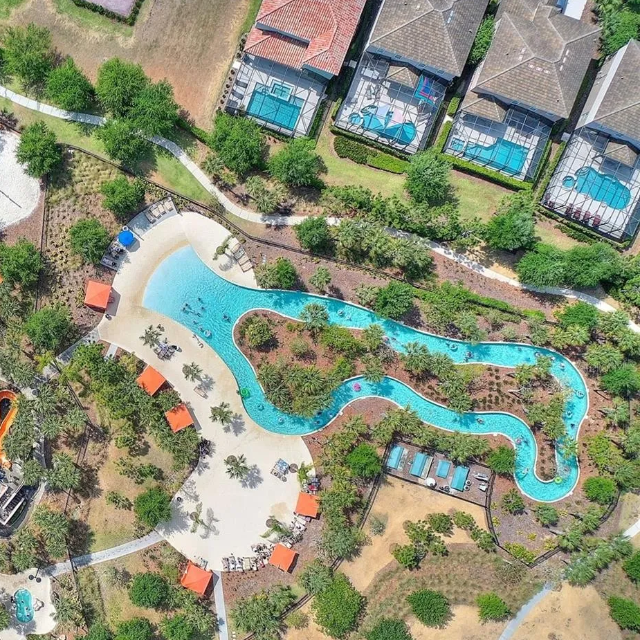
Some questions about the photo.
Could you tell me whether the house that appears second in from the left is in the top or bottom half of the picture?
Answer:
top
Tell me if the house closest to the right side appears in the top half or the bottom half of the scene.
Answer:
top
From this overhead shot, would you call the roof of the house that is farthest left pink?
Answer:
Yes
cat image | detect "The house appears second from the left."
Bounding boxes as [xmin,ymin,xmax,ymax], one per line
[360,0,488,91]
